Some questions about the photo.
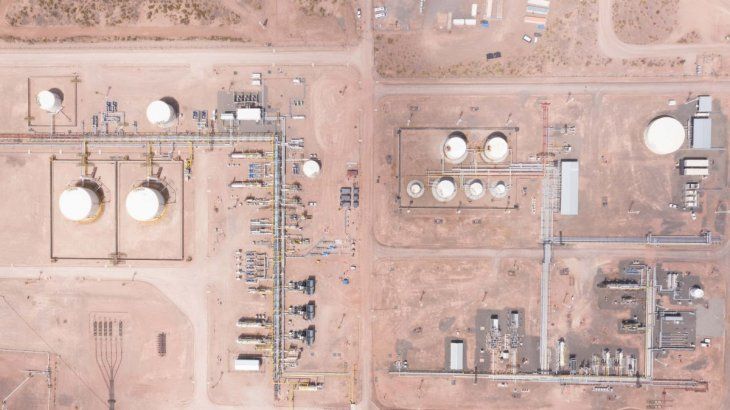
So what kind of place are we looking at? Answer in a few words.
industrial area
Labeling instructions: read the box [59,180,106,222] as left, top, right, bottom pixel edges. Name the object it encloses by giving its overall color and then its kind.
white storage tank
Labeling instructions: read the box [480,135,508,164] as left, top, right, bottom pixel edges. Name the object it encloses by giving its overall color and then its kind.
white storage tank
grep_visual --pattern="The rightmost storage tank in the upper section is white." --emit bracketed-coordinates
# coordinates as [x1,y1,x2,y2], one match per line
[642,116,687,156]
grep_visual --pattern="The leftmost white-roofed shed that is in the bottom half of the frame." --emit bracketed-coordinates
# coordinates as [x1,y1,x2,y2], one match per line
[235,357,260,371]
